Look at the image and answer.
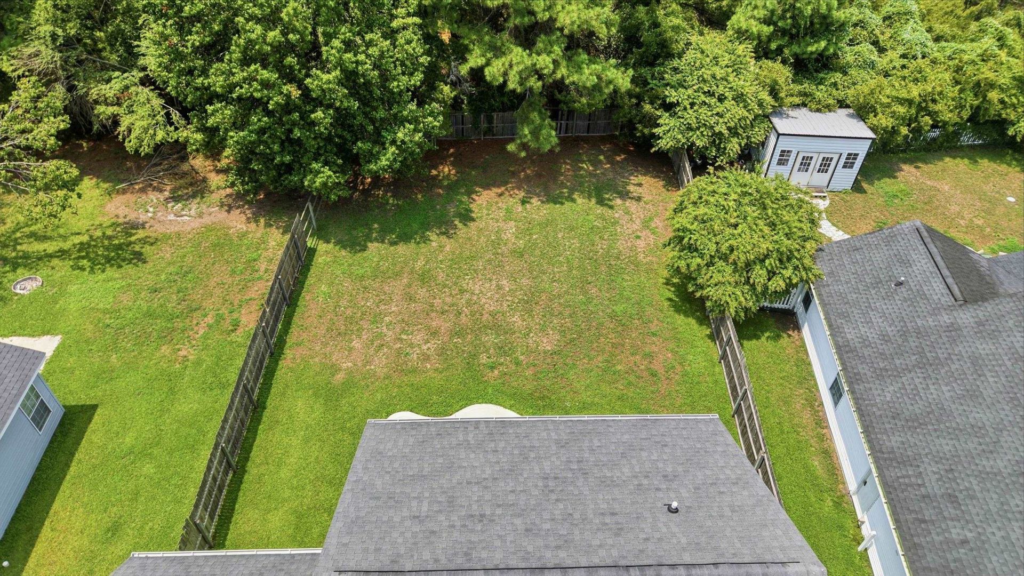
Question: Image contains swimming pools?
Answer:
No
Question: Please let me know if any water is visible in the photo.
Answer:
No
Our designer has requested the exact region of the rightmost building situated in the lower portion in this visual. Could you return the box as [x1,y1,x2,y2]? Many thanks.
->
[791,222,1024,576]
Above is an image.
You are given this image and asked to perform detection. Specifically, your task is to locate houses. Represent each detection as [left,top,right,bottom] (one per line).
[0,343,65,537]
[116,412,822,576]
[791,222,1024,576]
